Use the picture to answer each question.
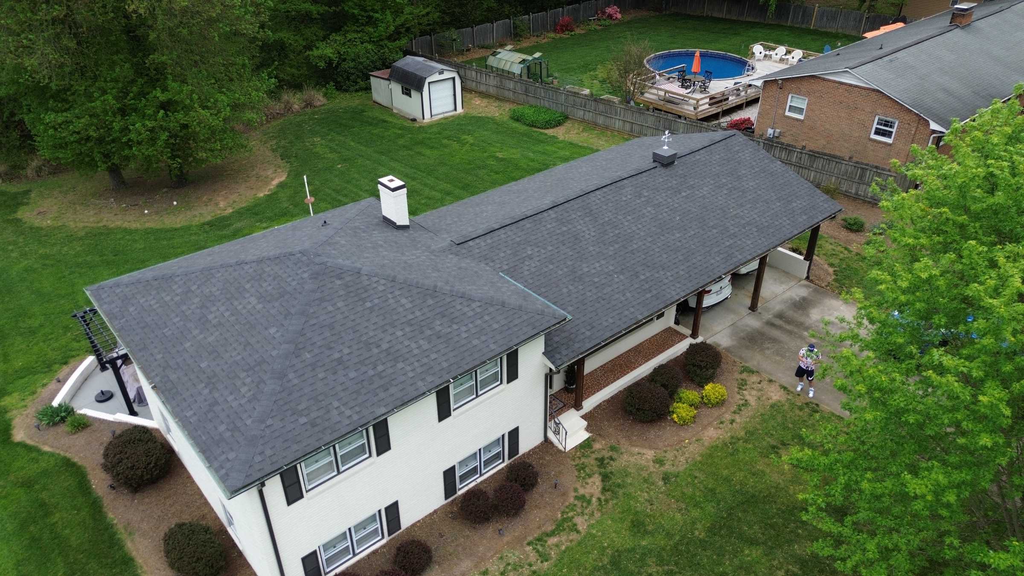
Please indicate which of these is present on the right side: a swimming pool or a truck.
swimming pool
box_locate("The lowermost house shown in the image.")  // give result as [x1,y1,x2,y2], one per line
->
[82,126,846,576]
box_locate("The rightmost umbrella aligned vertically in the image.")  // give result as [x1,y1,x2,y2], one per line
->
[689,48,701,76]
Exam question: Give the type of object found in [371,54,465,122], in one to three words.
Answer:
shed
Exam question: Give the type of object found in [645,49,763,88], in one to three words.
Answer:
swimming pool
